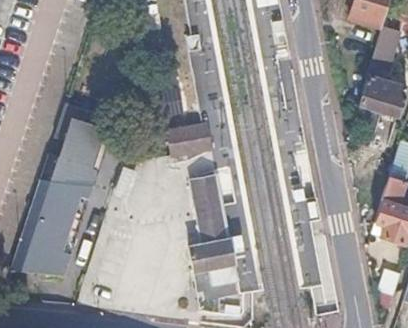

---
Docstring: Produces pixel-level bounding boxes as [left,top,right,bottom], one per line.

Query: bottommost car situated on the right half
[352,29,372,42]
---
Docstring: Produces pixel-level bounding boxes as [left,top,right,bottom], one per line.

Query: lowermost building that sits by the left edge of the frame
[7,180,96,278]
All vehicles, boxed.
[76,240,92,267]
[13,5,34,18]
[0,92,8,103]
[9,17,30,30]
[147,0,160,26]
[352,29,372,42]
[93,286,114,300]
[4,28,28,42]
[75,0,95,5]
[0,54,20,68]
[15,0,38,7]
[0,66,18,80]
[87,214,102,238]
[0,106,6,116]
[0,79,13,91]
[2,41,21,54]
[287,0,298,7]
